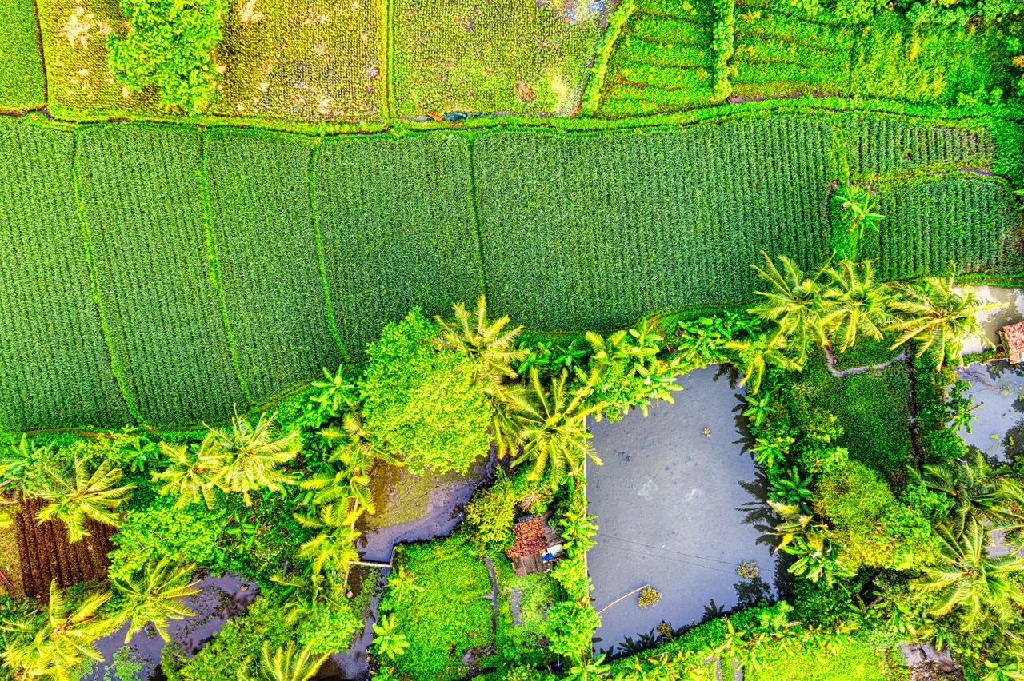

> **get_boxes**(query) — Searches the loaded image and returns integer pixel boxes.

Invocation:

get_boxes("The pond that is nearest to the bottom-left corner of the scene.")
[76,570,264,681]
